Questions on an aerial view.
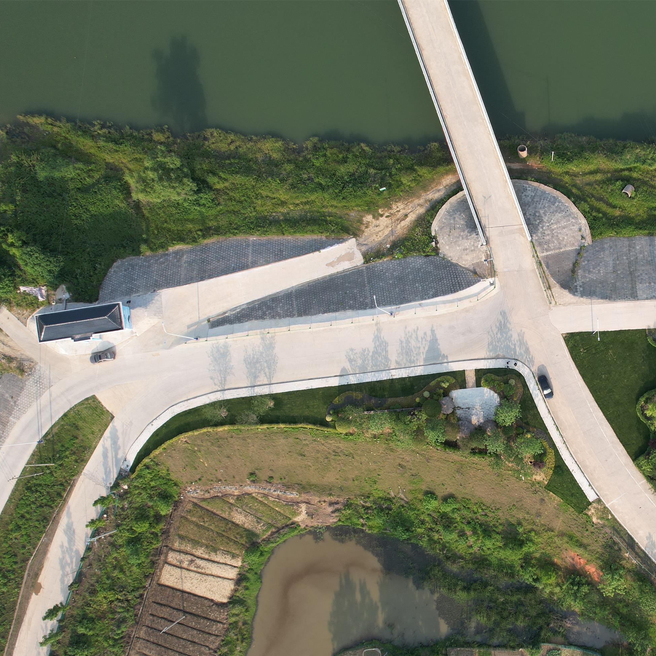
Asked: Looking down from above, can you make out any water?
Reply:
Yes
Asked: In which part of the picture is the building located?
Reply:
left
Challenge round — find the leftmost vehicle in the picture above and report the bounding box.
[87,350,115,362]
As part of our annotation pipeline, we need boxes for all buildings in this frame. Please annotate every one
[35,302,134,344]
